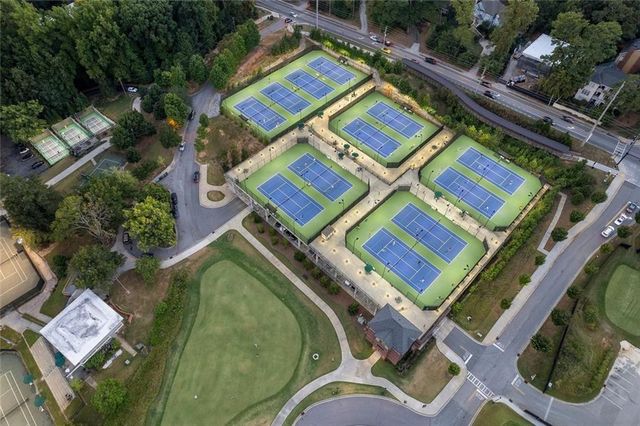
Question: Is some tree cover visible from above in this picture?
Yes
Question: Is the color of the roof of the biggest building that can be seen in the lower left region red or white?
white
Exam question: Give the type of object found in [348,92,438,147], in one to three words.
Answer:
tennis court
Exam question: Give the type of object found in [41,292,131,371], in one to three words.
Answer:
building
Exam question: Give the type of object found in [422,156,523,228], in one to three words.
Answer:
tennis court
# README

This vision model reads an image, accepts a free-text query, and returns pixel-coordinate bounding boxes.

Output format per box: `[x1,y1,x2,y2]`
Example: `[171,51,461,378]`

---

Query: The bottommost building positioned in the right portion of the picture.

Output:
[367,299,429,360]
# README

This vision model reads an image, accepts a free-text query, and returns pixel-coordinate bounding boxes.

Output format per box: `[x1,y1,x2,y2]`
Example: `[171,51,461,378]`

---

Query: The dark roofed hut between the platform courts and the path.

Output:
[70,136,103,159]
